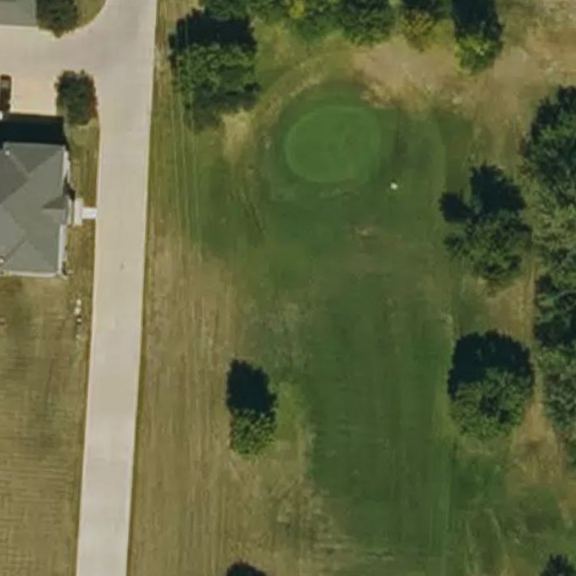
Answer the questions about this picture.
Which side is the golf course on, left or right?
right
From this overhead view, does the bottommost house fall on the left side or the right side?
left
